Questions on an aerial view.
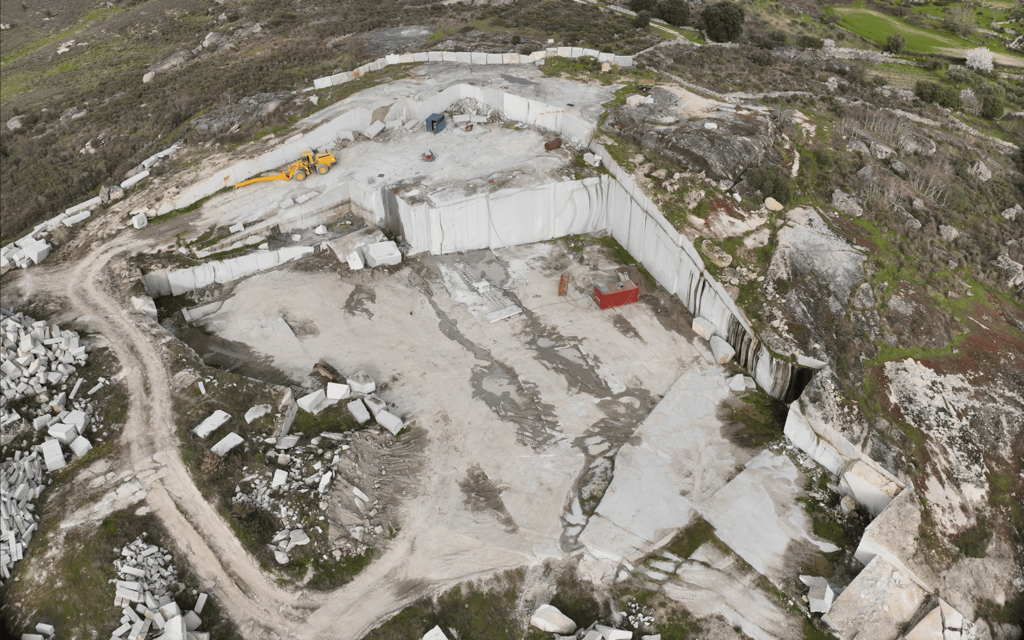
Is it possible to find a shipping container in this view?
Yes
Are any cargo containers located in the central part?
Yes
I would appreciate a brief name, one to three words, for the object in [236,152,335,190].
work vehicle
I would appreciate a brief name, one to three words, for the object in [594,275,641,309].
shipping container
